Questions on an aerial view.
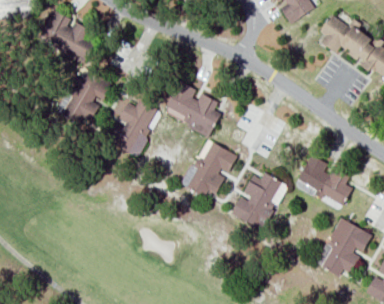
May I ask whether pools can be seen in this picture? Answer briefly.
No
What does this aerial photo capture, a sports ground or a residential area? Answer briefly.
residential area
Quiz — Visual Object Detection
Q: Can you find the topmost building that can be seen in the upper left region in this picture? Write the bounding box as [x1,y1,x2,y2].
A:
[44,12,92,62]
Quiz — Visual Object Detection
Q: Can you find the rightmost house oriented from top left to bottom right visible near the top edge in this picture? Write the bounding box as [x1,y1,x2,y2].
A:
[320,13,384,73]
